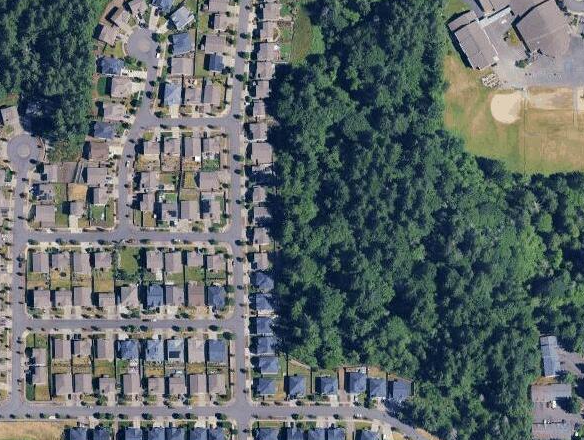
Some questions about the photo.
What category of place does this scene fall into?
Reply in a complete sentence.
This image shows a residential area.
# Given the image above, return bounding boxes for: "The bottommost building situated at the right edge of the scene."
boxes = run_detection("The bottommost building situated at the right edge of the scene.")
[532,423,571,440]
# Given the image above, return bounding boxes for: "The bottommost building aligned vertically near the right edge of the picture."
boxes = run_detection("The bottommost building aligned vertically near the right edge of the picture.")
[540,337,561,378]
